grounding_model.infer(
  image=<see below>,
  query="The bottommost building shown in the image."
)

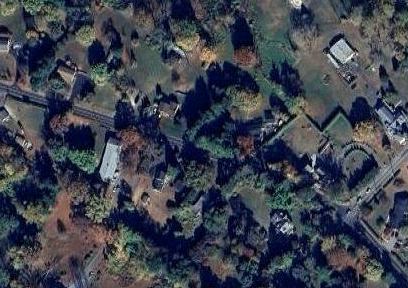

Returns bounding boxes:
[267,212,296,235]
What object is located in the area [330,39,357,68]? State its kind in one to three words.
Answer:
barn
